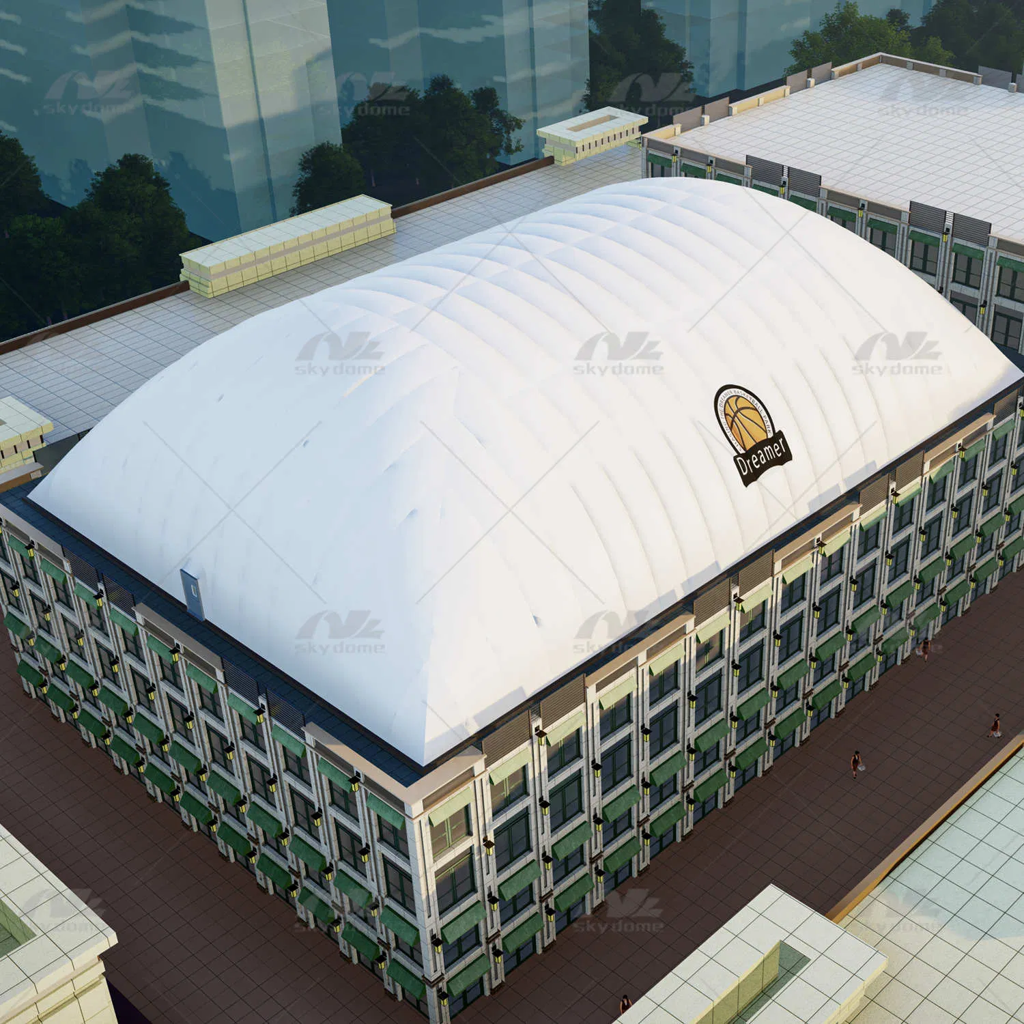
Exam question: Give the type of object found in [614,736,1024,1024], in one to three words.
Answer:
building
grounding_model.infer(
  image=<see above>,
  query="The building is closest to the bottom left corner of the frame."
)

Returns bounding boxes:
[0,825,120,1024]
